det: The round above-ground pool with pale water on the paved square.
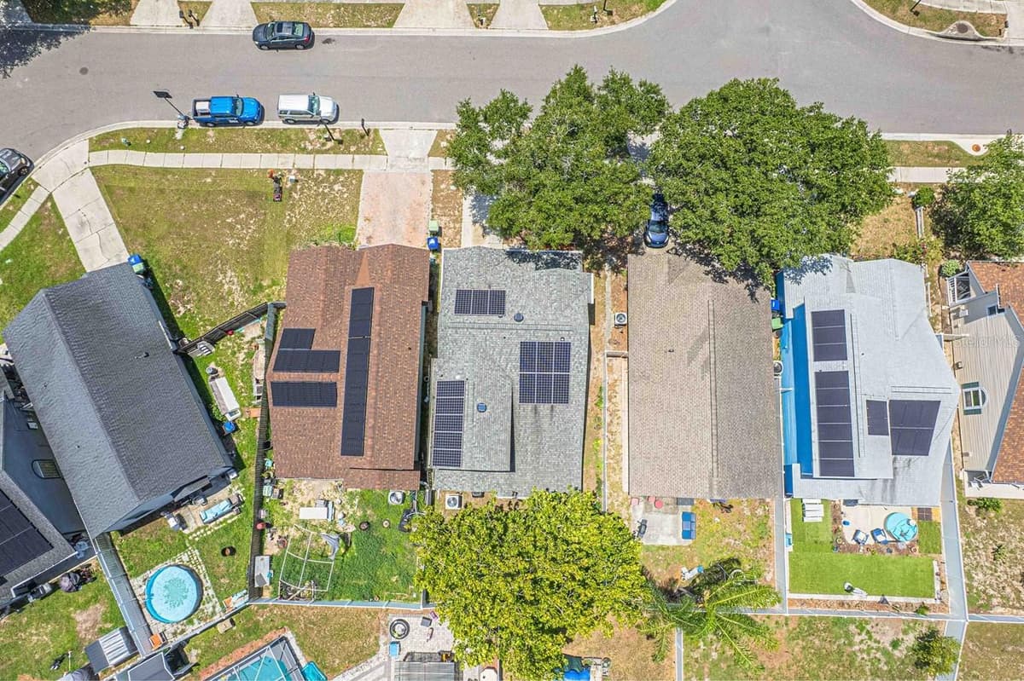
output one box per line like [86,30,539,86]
[143,559,209,625]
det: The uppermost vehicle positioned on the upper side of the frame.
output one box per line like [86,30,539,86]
[251,20,315,52]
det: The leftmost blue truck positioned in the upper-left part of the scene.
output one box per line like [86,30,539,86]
[189,96,266,129]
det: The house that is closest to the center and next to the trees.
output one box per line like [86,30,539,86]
[430,246,597,496]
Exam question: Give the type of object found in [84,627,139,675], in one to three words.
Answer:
shed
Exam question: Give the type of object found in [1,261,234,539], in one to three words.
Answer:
house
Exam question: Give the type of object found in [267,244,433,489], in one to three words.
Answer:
house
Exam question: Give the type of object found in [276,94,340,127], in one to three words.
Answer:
car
